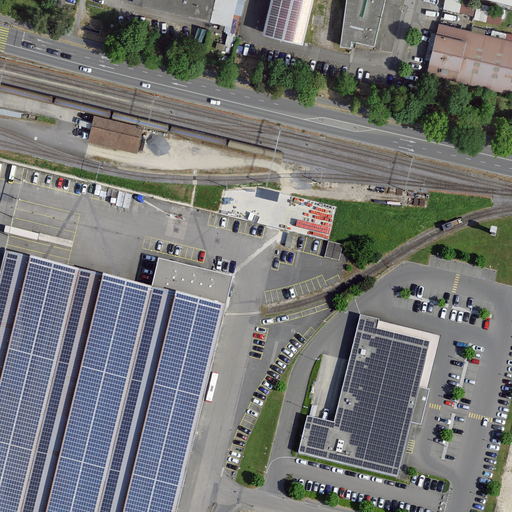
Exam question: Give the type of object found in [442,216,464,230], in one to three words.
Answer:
vehicle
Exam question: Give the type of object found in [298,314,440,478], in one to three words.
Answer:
warehouse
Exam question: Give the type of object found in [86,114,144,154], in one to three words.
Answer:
shed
